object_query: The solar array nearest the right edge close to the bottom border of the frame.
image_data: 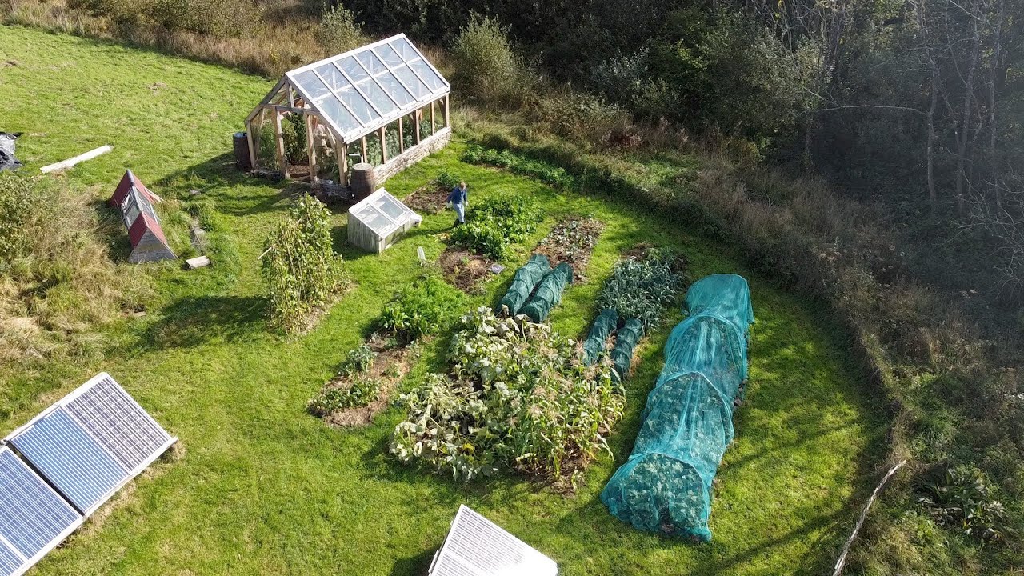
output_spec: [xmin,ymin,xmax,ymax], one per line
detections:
[426,504,557,576]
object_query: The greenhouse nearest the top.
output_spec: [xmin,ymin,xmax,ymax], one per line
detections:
[239,33,458,190]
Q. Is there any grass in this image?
Yes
